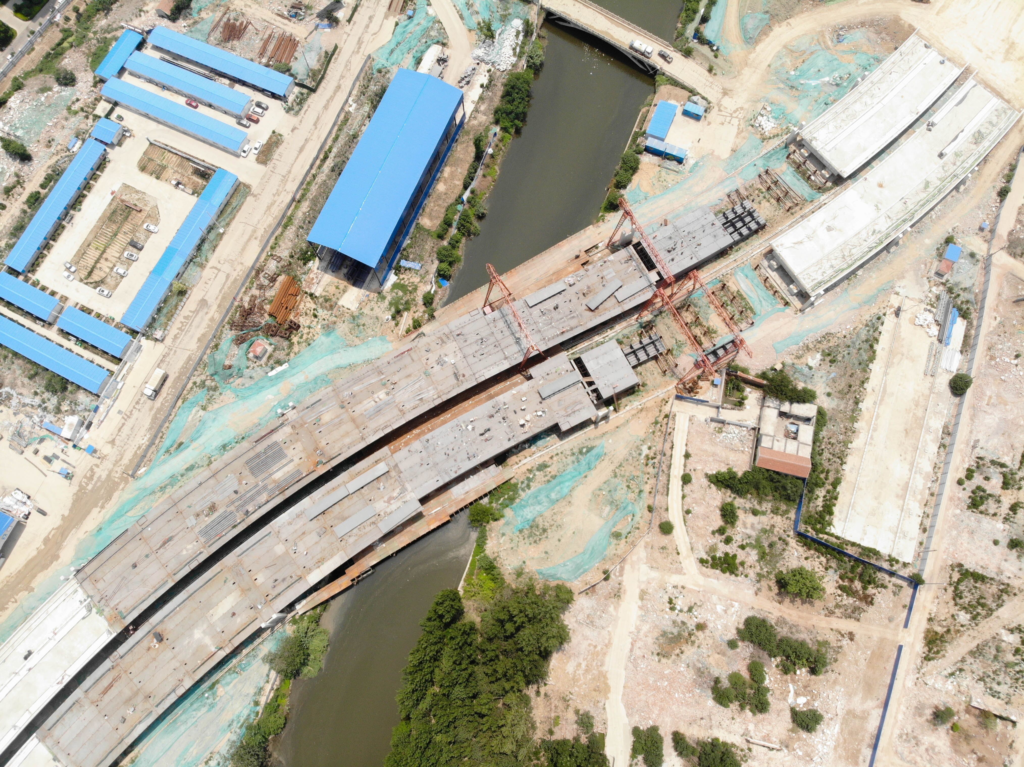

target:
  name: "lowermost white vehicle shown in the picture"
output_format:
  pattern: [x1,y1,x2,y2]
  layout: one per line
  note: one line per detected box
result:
[140,362,169,401]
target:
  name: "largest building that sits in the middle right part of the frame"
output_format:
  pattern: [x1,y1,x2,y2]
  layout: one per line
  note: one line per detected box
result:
[754,396,818,479]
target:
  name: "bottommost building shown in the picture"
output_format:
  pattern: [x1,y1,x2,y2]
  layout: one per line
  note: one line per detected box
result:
[0,507,31,569]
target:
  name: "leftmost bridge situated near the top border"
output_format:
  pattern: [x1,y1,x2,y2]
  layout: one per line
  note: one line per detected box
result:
[530,0,709,92]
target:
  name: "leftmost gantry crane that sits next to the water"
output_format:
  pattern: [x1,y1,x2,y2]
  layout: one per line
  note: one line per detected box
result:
[480,264,551,371]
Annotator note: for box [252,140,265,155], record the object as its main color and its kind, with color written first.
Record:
white vehicle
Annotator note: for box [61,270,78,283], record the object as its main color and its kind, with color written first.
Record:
white vehicle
